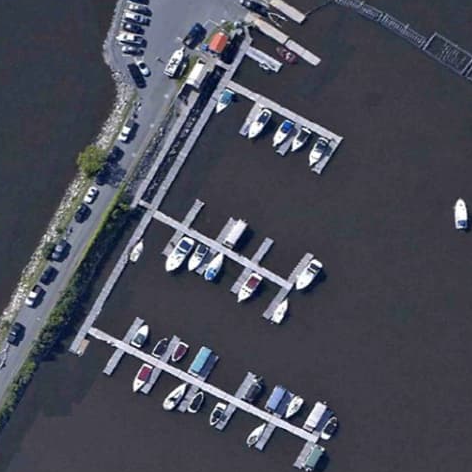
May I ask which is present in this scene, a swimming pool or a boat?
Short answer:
boat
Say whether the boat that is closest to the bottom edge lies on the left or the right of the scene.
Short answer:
right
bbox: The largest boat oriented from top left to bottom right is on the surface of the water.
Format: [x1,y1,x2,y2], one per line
[277,48,297,65]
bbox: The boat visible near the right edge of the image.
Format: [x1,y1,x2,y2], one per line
[453,198,467,231]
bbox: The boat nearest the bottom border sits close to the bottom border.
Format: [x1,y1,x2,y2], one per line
[303,444,324,472]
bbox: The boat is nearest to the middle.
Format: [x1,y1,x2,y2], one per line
[225,219,246,249]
